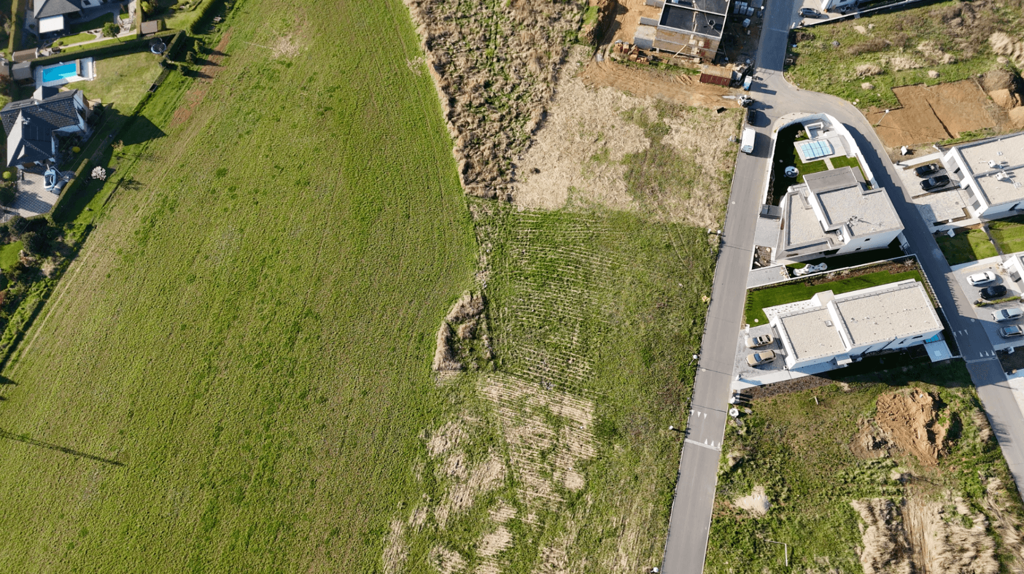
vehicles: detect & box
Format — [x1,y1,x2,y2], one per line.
[741,124,757,154]
[745,332,777,349]
[994,305,1024,322]
[979,283,1012,300]
[46,174,69,198]
[968,270,1000,286]
[797,4,823,19]
[733,91,757,108]
[746,104,759,125]
[921,174,952,190]
[914,161,944,178]
[746,349,779,367]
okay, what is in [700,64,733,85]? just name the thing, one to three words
shed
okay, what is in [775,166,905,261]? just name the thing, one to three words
house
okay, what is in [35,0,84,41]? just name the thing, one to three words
house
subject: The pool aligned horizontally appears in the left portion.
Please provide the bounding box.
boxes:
[41,62,76,83]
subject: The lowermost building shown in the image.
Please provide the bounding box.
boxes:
[771,282,944,369]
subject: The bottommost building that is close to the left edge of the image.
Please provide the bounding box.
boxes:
[0,86,86,175]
